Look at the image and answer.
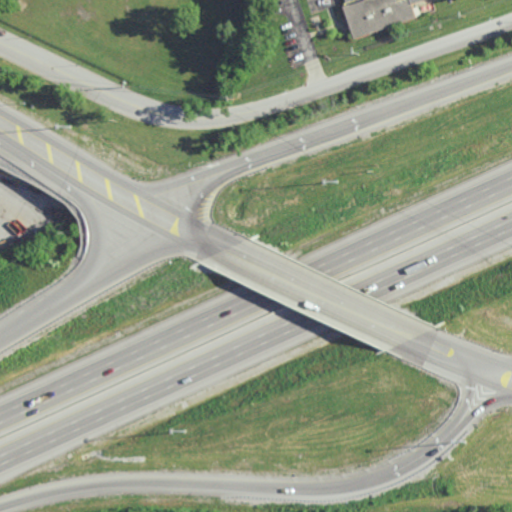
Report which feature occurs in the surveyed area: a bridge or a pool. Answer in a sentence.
The one in the frame is a bridge.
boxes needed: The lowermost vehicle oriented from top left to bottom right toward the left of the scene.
[7,220,24,236]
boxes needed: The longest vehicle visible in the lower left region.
[30,392,54,406]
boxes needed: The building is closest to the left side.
[342,0,416,38]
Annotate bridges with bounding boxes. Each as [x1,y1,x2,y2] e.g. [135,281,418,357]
[187,232,446,357]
